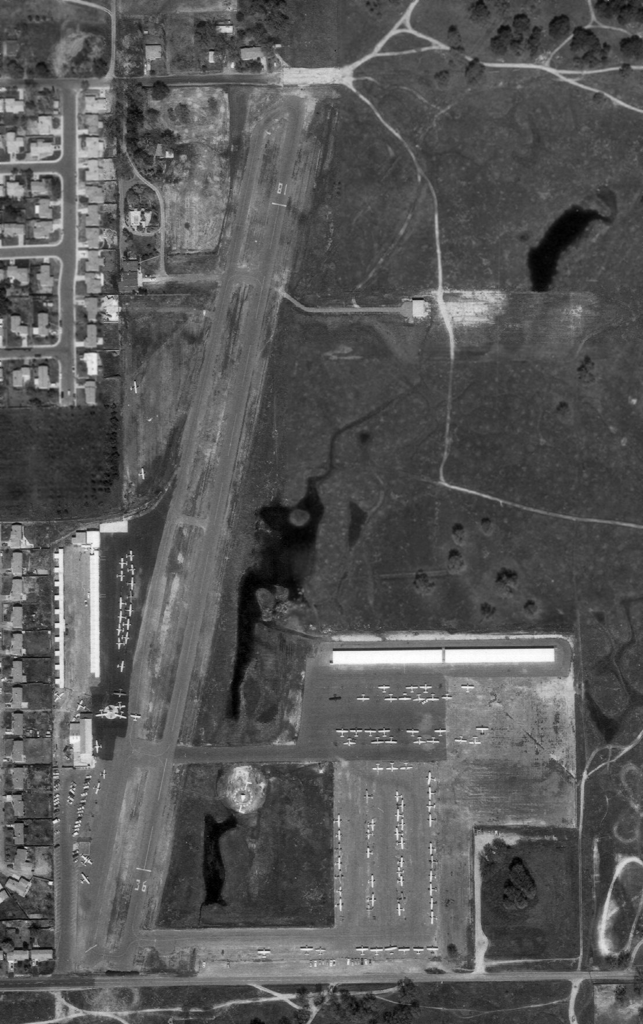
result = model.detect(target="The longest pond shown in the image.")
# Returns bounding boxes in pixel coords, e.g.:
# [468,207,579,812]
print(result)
[231,479,324,719]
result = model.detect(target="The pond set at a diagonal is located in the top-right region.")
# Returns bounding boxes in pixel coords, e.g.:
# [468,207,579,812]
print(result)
[528,205,611,292]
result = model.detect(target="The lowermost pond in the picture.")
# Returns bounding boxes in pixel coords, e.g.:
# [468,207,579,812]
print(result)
[203,813,237,906]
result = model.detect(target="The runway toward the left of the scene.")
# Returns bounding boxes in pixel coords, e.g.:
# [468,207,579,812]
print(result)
[125,98,305,940]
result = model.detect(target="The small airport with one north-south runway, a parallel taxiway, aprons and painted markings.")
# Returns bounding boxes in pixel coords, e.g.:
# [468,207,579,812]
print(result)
[54,96,573,974]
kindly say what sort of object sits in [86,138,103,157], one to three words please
house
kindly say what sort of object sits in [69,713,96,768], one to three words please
building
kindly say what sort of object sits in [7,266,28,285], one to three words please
house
